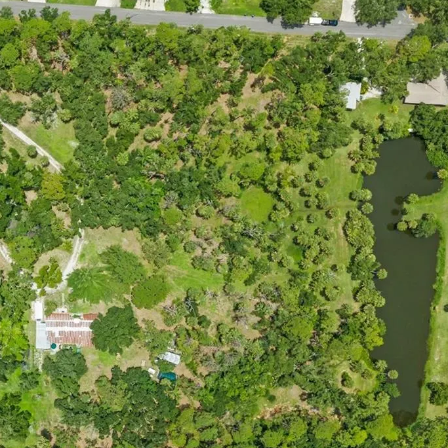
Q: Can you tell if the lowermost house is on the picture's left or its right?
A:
left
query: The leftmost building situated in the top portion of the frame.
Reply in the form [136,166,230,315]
[337,83,361,110]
